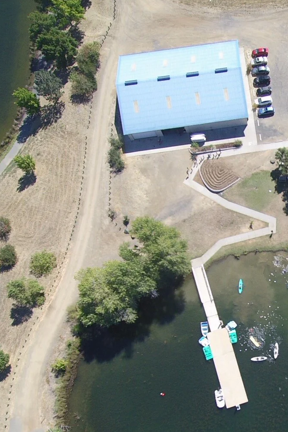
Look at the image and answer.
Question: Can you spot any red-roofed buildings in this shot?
No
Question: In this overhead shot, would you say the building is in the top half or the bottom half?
top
